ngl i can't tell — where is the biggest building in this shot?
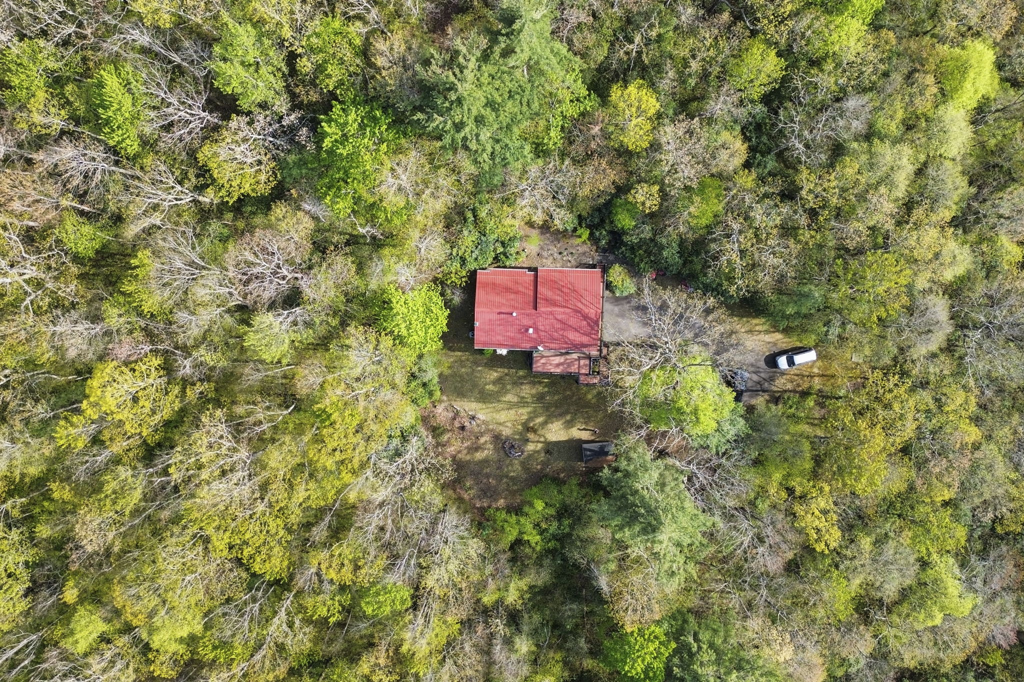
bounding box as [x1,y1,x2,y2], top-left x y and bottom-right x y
[473,267,602,353]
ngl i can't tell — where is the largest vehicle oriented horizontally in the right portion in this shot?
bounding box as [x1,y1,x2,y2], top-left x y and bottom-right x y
[775,349,819,370]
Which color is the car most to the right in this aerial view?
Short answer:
white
